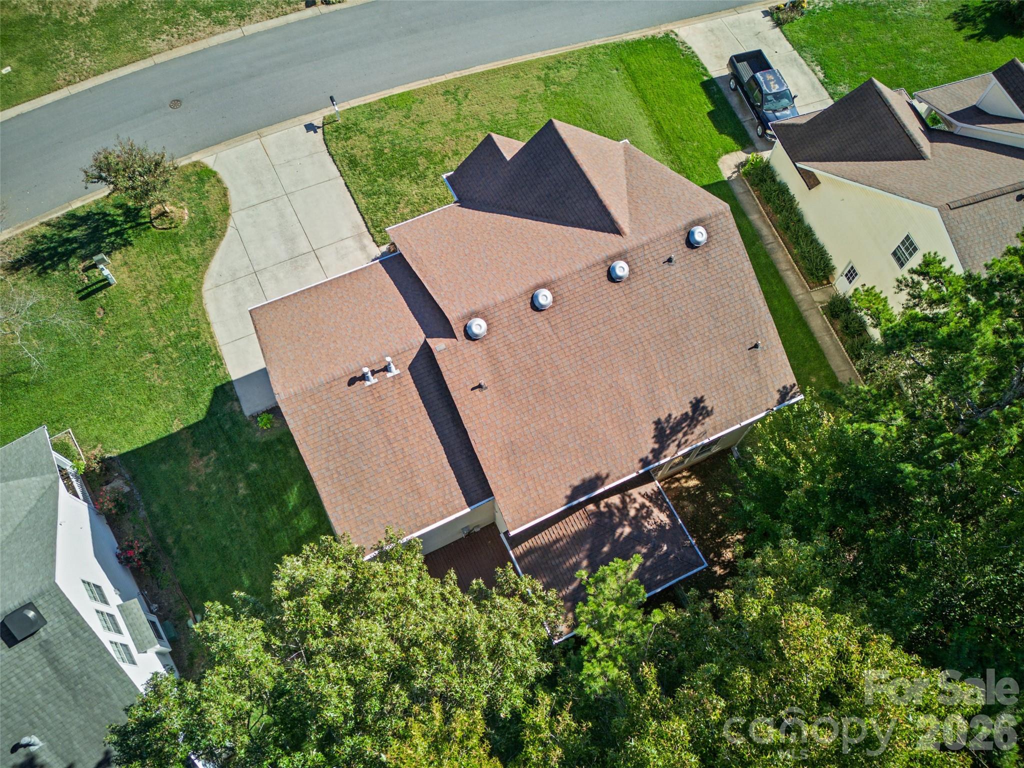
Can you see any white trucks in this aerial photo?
No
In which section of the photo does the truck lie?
top right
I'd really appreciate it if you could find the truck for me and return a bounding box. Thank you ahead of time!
[724,65,789,143]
